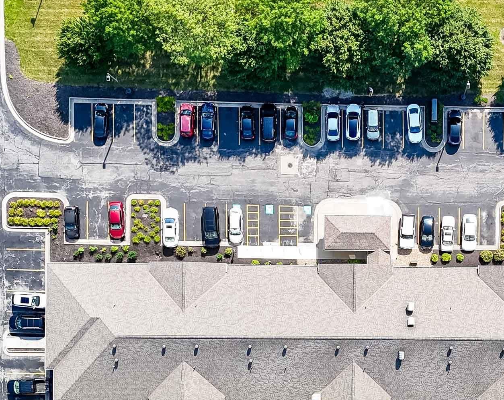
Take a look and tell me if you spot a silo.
No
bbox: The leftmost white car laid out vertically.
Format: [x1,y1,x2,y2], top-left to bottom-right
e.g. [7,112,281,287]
[161,209,180,247]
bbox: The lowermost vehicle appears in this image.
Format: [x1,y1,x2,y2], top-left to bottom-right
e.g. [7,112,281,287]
[7,379,51,396]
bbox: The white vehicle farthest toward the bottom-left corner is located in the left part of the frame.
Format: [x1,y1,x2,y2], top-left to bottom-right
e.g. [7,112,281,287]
[12,291,46,309]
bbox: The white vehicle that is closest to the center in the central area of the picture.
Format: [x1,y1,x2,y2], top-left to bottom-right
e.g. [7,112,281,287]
[227,206,244,244]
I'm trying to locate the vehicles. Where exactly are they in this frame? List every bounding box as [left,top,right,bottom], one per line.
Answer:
[283,106,299,143]
[7,379,51,396]
[227,206,244,244]
[11,314,46,330]
[419,216,435,250]
[12,291,46,309]
[447,110,464,145]
[201,206,220,247]
[110,202,126,240]
[345,105,362,142]
[460,214,478,250]
[325,105,341,142]
[239,105,256,142]
[179,103,197,139]
[62,203,81,241]
[161,209,180,247]
[92,103,111,138]
[406,105,423,143]
[440,217,455,251]
[402,212,415,250]
[365,109,382,140]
